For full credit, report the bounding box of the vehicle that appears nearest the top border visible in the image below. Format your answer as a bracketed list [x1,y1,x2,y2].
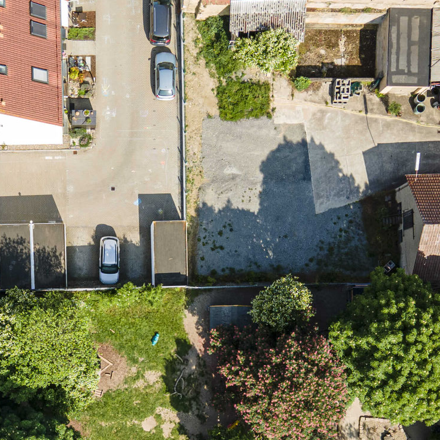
[147,0,174,49]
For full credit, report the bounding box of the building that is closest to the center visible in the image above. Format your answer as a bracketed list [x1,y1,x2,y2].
[152,220,187,289]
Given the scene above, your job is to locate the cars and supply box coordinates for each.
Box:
[96,234,122,285]
[147,0,174,49]
[153,54,178,103]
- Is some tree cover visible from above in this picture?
Yes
